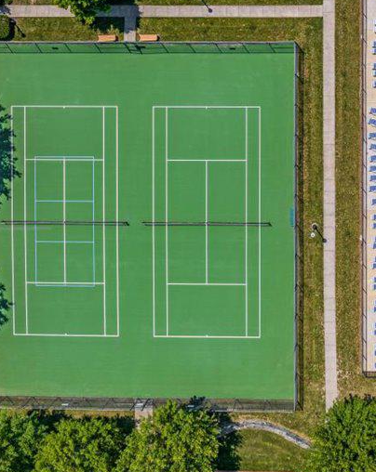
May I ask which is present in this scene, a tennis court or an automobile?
tennis court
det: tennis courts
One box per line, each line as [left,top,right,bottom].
[0,44,135,399]
[135,44,296,399]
